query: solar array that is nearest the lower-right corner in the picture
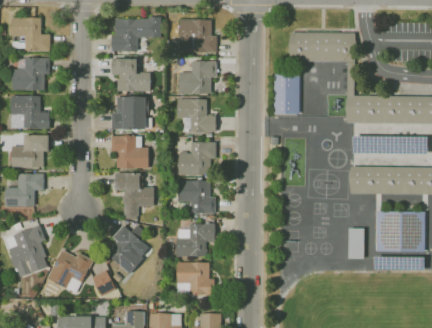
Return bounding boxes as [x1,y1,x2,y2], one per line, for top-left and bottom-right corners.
[374,258,425,270]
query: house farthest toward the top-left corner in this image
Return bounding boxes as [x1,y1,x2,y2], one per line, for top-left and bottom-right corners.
[9,18,49,52]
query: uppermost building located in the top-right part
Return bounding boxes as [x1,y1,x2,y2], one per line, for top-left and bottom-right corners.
[290,32,356,62]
